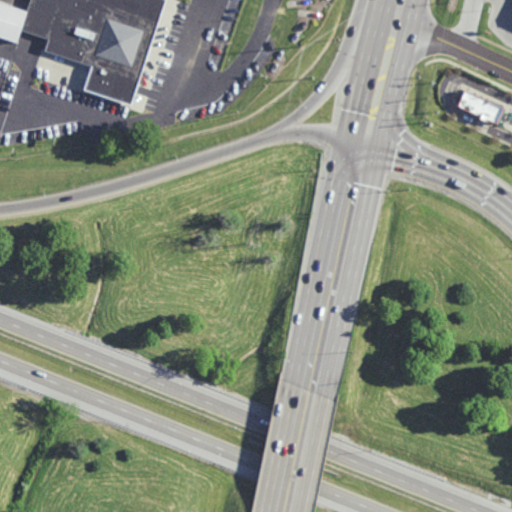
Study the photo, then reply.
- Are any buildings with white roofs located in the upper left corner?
Yes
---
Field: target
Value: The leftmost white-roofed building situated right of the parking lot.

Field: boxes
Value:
[457,91,504,125]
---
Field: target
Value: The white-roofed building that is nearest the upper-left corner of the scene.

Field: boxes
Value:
[0,2,28,46]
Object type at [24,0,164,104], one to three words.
building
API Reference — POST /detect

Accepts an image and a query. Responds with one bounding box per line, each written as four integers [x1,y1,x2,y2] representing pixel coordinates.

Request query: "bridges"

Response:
[252,379,336,512]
